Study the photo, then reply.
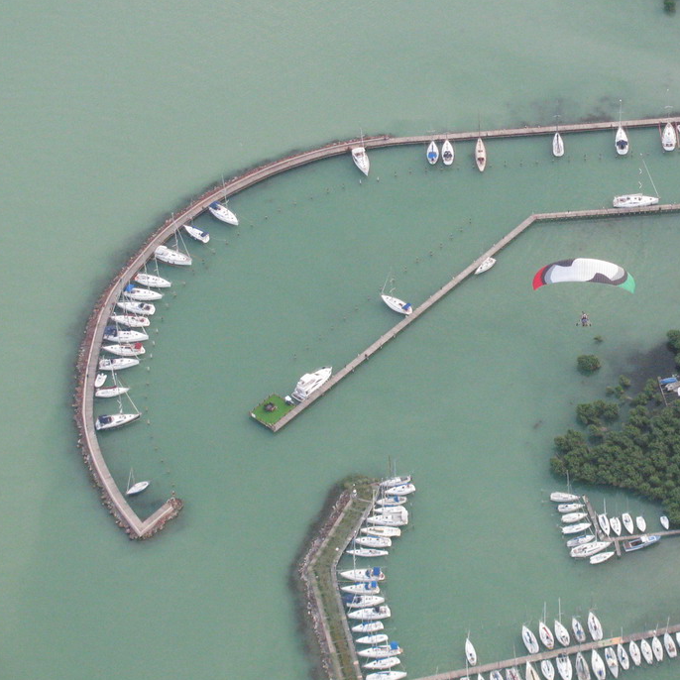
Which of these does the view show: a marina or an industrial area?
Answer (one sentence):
The area seen from above is a marina.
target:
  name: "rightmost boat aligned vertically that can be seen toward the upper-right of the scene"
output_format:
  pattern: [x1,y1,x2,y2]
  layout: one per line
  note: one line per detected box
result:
[661,100,677,152]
